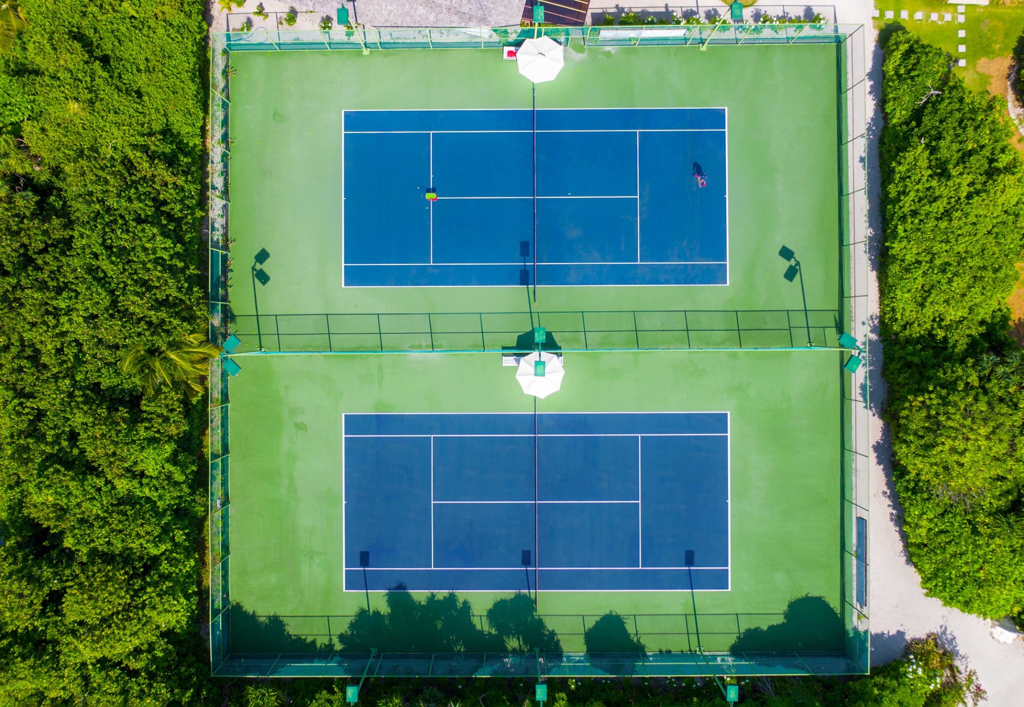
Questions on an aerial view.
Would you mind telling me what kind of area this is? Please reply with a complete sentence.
This looks like a sports ground.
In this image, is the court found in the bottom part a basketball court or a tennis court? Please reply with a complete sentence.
Looking closely, the court found in the bottom part is a tennis court.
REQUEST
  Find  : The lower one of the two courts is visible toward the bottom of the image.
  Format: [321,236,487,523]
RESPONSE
[228,350,852,657]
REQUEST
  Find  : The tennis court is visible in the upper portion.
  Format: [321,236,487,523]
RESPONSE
[228,35,851,350]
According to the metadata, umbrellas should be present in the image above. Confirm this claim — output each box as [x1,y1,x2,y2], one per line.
[516,352,565,400]
[517,35,564,84]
